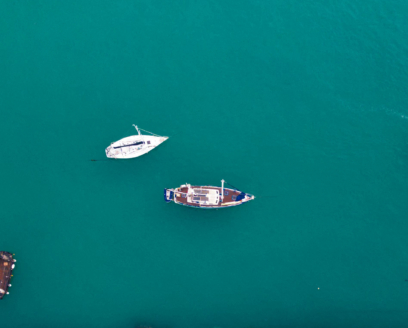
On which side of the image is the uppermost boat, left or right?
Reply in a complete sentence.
It is on the left.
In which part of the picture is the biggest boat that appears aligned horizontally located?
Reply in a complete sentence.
You can find the biggest boat that appears aligned horizontally in the center area of the picture.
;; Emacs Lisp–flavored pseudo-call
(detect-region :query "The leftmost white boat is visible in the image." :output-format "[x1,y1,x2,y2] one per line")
[104,124,169,160]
